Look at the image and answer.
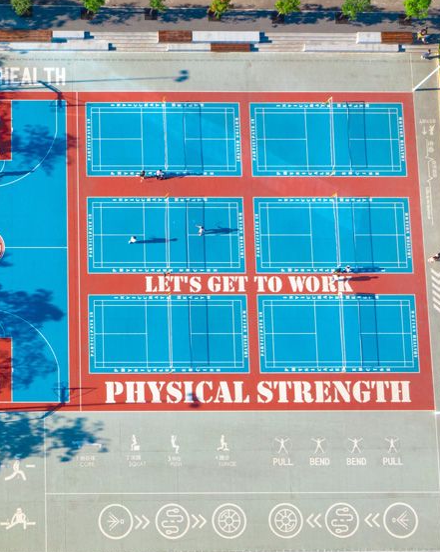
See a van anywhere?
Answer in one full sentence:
No, I can see no van in this picture.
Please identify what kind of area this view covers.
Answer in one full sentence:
What you see here is a sports ground.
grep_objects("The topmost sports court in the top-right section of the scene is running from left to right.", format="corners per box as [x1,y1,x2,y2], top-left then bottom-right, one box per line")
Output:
[249,103,408,177]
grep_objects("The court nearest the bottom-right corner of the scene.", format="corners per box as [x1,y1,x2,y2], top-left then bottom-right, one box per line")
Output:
[257,294,420,374]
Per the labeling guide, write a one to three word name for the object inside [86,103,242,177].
sports court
